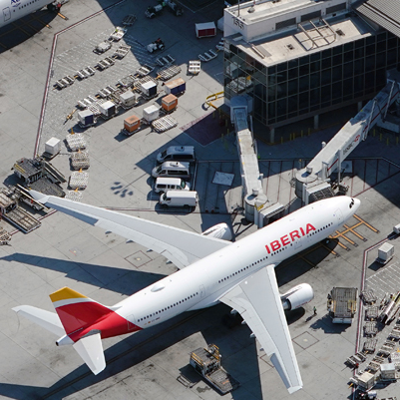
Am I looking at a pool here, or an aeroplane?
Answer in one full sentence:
I can see an aeroplane in this picture.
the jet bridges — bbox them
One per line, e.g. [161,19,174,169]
[294,69,400,199]
[226,94,287,221]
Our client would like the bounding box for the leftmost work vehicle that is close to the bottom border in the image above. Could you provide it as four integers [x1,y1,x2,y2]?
[185,335,237,394]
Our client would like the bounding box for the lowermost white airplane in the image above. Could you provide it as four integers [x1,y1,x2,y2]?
[12,186,363,392]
